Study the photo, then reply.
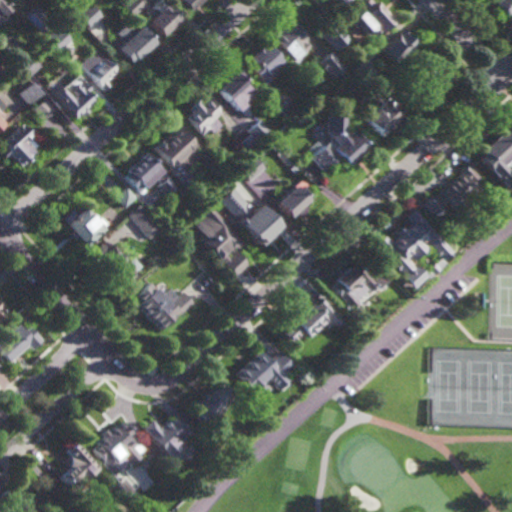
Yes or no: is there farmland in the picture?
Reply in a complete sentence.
No, no farmland is visible.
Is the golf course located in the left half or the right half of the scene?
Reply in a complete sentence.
You can find the golf course on the right side of the picture.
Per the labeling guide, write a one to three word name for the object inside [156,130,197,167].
house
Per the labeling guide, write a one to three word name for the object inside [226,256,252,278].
house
